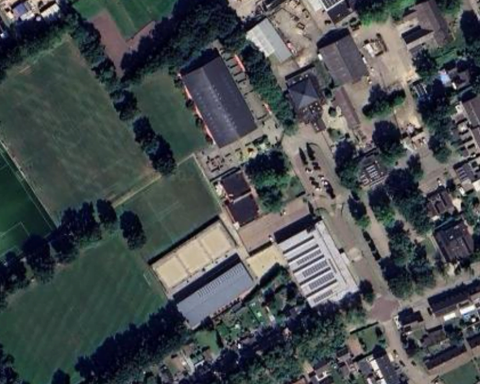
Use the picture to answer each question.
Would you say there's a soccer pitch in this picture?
Yes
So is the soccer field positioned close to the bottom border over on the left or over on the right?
left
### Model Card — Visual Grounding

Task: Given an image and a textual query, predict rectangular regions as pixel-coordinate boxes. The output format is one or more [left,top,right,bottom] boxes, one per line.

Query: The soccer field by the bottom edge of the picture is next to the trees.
[0,235,173,384]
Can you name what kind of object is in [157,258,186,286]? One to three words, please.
sports court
